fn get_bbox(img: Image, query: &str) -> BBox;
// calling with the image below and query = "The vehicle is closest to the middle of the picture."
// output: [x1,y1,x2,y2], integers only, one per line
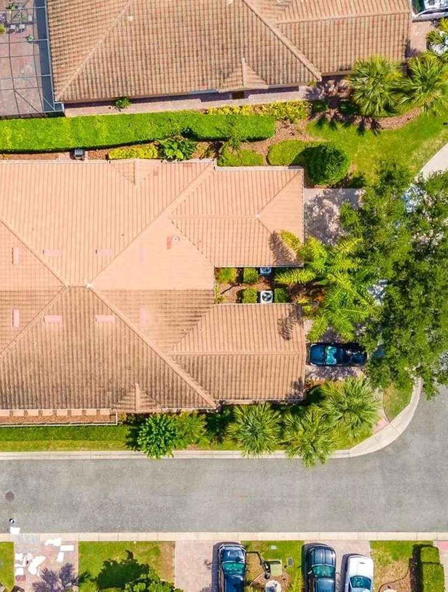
[309,343,365,367]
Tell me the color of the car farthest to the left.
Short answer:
blue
